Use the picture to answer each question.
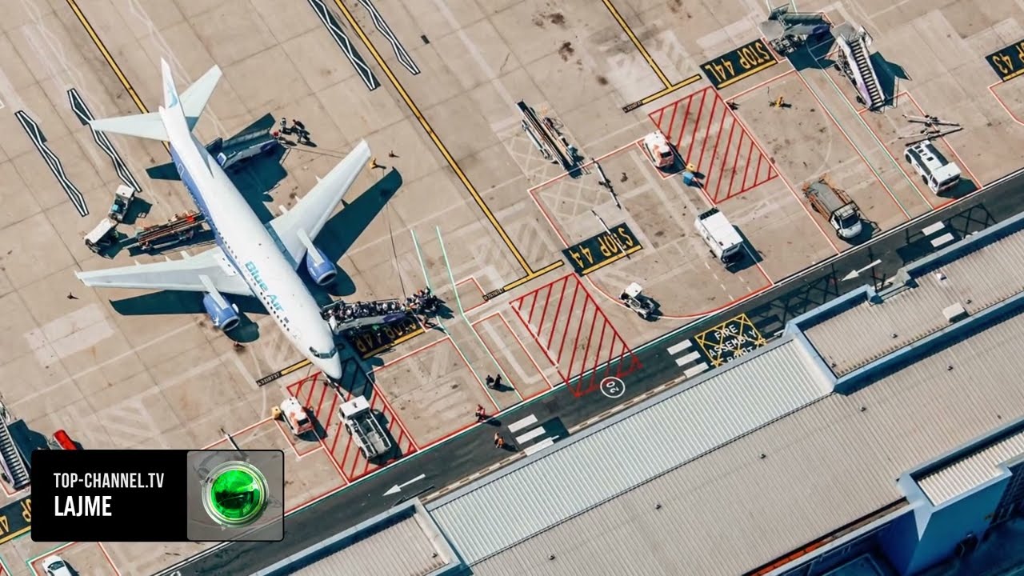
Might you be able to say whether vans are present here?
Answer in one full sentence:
Yes, there's a van down there.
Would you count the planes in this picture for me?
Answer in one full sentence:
Just 1 plane appears in this view.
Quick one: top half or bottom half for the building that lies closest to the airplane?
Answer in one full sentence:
The building that lies closest to the airplane is in the bottom half of the image.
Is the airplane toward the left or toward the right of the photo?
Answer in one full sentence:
The airplane appears in the left half of the scene.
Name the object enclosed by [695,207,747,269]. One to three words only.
van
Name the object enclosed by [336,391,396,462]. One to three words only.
work vehicle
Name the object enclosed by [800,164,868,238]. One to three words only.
truck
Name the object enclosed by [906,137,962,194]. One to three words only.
vehicle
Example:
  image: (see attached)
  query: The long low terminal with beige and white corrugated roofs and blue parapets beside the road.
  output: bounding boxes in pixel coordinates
[254,212,1024,576]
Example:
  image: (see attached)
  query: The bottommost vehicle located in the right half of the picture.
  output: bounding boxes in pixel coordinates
[616,279,648,323]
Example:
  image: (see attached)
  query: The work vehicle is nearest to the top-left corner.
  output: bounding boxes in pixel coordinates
[102,185,133,227]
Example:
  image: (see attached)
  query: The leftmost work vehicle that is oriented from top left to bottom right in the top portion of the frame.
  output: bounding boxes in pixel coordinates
[517,106,580,170]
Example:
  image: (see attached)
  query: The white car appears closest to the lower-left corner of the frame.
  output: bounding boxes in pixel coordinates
[43,552,77,576]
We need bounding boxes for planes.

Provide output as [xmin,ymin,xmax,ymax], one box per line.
[73,58,369,380]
